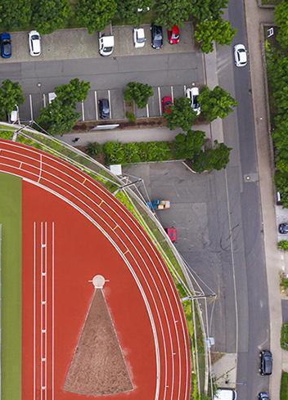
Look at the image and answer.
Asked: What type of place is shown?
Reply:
sports ground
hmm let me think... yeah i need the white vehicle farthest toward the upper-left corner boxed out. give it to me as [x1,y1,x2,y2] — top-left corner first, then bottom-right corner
[28,30,42,56]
